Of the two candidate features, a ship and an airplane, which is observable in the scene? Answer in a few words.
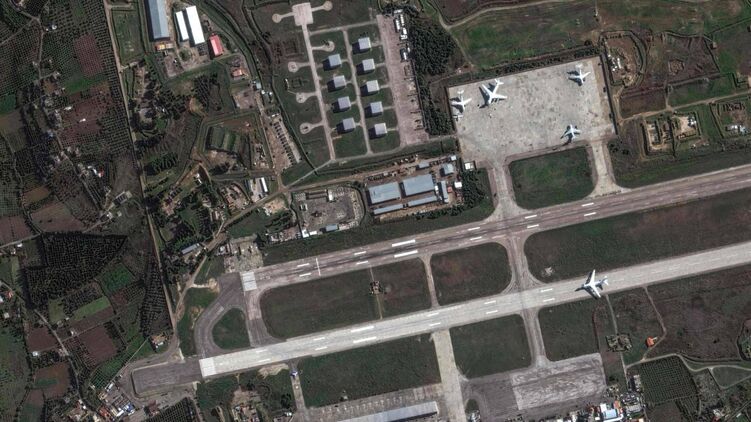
airplane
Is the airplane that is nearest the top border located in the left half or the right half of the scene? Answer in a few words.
right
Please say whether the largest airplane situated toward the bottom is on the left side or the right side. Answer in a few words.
right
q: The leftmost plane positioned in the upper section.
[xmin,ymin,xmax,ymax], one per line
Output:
[453,90,472,112]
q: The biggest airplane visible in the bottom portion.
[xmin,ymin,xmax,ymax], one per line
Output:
[582,269,610,297]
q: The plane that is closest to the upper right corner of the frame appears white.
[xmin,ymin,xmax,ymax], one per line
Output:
[569,62,593,85]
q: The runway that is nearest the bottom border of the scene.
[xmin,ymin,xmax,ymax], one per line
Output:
[199,240,751,381]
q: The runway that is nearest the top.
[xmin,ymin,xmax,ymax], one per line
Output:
[240,163,751,295]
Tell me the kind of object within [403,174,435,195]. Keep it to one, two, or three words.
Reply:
hangar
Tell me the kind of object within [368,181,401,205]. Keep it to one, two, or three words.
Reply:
hangar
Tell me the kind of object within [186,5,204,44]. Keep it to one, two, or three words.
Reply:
shed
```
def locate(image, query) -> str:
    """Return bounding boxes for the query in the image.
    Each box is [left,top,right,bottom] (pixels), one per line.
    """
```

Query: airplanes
[569,62,593,85]
[482,77,508,104]
[453,90,472,112]
[582,269,610,297]
[565,124,581,140]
